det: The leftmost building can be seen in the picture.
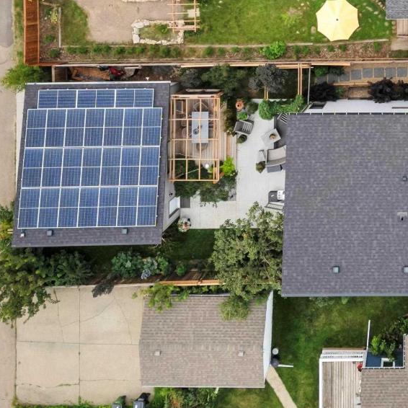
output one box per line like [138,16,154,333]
[11,81,181,248]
